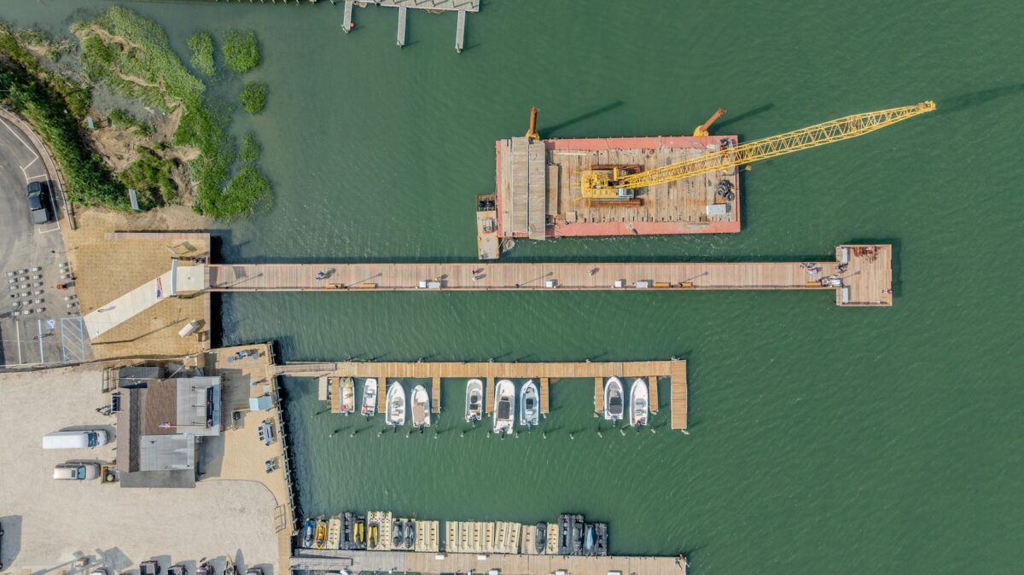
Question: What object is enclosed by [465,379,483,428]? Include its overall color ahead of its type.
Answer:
white boat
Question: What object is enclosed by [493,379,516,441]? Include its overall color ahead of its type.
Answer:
white boat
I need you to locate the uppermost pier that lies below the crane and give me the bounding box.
[206,245,892,306]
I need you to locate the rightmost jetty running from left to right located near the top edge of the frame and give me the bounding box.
[343,0,479,50]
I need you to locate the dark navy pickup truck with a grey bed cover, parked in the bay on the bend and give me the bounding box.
[25,177,54,229]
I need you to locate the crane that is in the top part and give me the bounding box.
[576,100,935,210]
